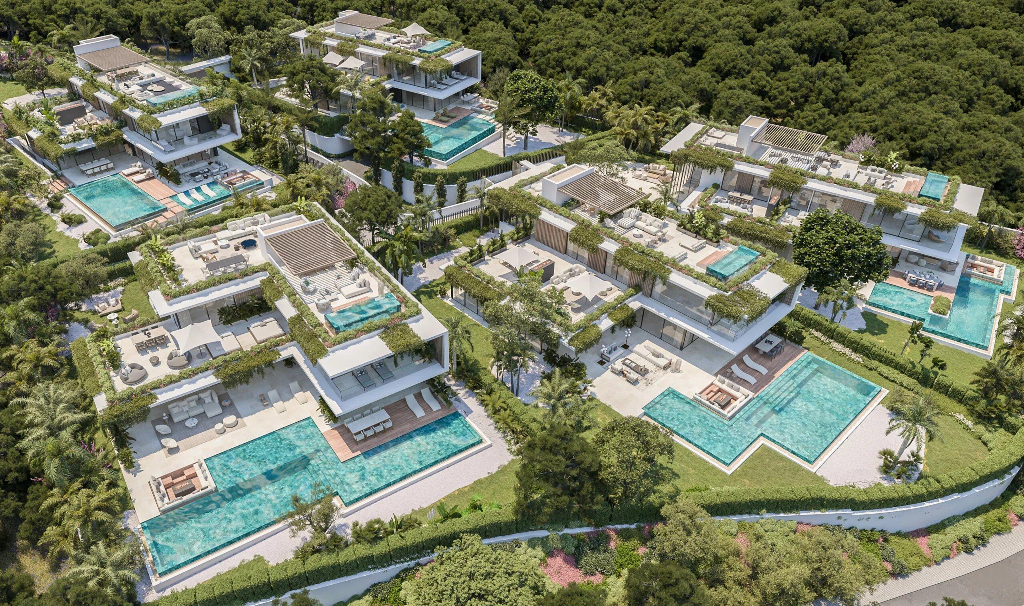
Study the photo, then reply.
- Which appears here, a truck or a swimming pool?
swimming pool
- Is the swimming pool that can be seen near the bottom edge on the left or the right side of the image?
left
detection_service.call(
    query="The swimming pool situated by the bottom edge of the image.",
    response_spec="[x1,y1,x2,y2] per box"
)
[136,411,492,591]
